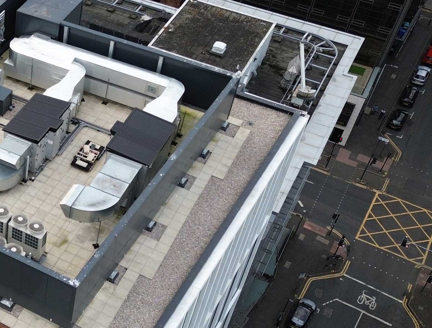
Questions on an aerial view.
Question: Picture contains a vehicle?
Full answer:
Yes, there's a vehicle down there.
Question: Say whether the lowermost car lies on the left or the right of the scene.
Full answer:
It is on the right.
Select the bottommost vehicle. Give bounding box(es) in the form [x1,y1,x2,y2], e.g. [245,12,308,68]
[288,296,316,328]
